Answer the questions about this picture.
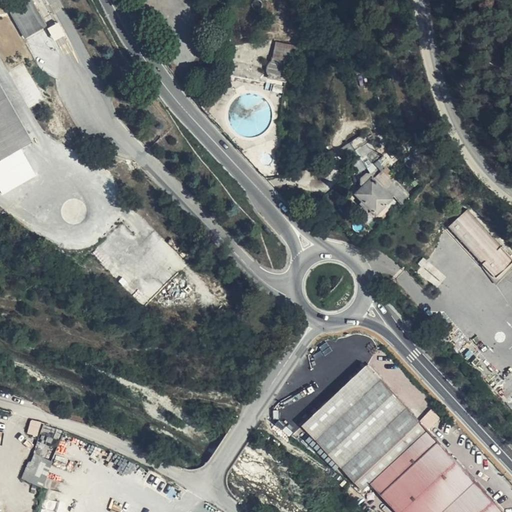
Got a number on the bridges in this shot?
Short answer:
1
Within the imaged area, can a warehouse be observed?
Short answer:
Yes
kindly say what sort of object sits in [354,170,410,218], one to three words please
house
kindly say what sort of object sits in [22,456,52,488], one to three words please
building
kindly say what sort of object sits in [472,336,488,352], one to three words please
vehicle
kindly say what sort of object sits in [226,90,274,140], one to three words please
swimming pool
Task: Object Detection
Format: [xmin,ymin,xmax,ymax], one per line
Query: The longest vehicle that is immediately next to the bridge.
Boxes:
[273,387,312,410]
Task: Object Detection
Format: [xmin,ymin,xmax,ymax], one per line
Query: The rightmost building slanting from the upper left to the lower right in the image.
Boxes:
[449,210,512,277]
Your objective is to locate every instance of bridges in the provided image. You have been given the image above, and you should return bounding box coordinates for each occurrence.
[180,407,264,504]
